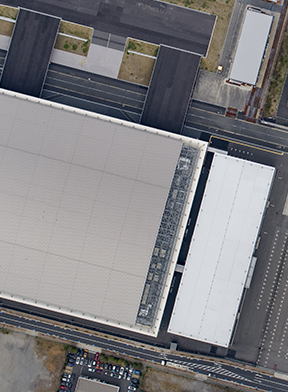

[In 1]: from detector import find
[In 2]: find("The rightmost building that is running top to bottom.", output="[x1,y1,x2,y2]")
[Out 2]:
[230,7,274,85]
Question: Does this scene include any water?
No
